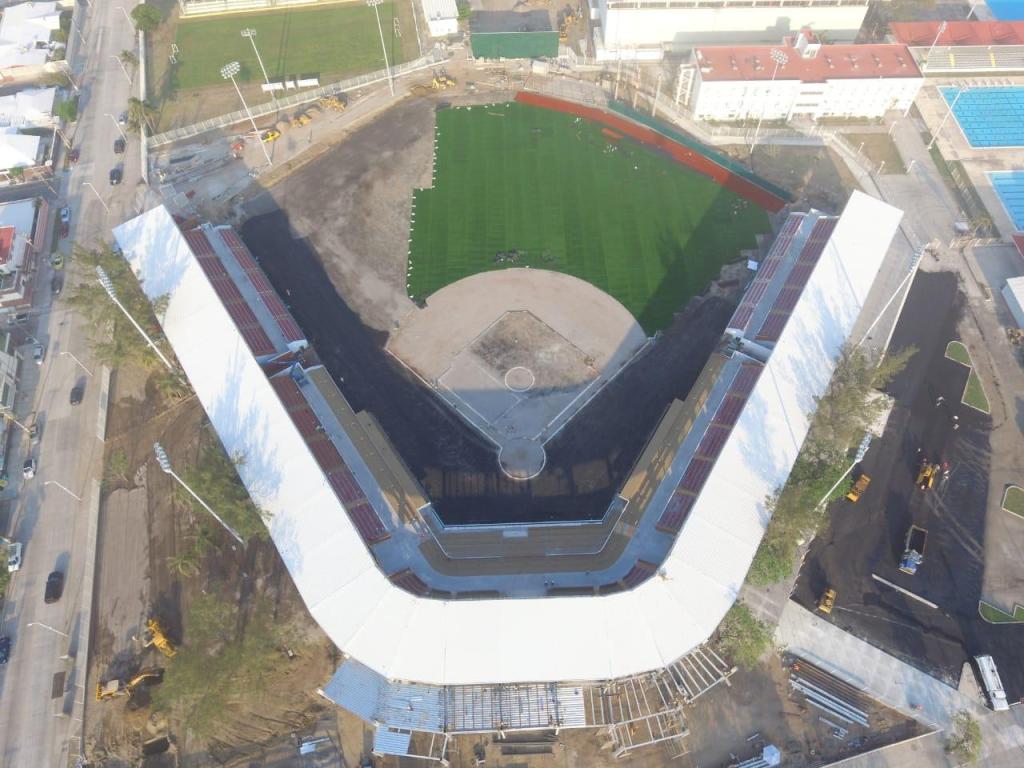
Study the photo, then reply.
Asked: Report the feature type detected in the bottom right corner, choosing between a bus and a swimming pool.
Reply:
bus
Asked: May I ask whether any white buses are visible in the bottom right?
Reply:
Yes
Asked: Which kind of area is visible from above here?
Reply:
sports ground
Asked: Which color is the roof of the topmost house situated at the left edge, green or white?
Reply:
white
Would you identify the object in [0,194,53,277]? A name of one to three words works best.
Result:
house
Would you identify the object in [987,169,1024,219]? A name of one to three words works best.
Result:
swimming pool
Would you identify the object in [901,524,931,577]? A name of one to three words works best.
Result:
truck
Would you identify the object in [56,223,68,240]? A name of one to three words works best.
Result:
vehicle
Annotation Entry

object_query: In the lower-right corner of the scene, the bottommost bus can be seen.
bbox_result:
[968,656,1008,712]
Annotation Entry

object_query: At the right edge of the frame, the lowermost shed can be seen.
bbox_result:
[994,277,1024,338]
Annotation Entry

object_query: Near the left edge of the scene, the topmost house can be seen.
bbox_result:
[0,1,67,60]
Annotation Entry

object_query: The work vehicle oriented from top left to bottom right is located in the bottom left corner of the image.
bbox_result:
[141,617,178,663]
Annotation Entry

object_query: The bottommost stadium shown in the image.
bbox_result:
[113,190,904,683]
